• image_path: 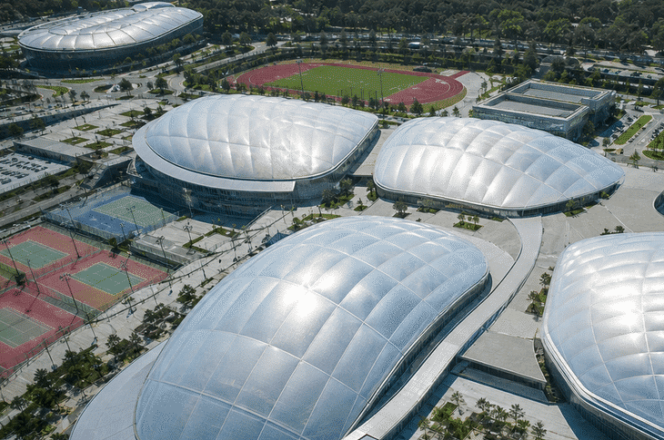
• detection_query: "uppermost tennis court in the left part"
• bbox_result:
[46,185,179,241]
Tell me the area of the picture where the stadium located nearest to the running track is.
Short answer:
top left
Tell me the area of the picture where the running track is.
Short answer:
top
